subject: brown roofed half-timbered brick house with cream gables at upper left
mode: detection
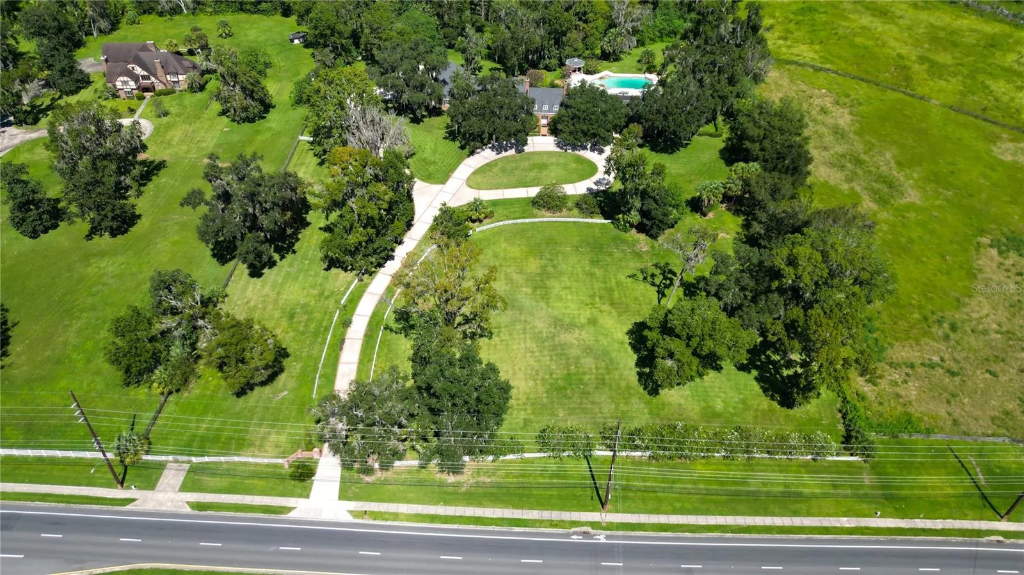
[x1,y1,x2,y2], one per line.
[94,36,209,99]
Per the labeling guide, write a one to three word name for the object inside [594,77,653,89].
swimming pool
